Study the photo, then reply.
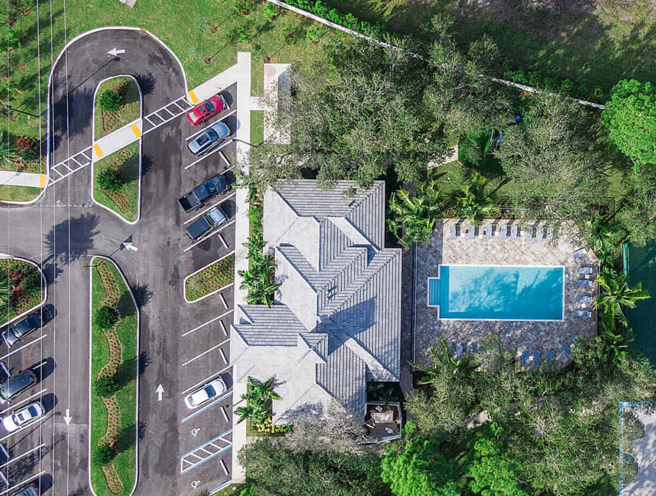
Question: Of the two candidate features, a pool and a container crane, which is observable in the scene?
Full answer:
This aerial view contains a pool.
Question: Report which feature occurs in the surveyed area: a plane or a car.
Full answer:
This aerial view contains a car.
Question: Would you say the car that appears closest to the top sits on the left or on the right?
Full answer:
The car that appears closest to the top appears in the left half of the scene.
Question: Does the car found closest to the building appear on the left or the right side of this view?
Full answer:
The car found closest to the building sits on the left side.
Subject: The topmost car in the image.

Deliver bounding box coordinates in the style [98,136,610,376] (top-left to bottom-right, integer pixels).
[185,95,228,127]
